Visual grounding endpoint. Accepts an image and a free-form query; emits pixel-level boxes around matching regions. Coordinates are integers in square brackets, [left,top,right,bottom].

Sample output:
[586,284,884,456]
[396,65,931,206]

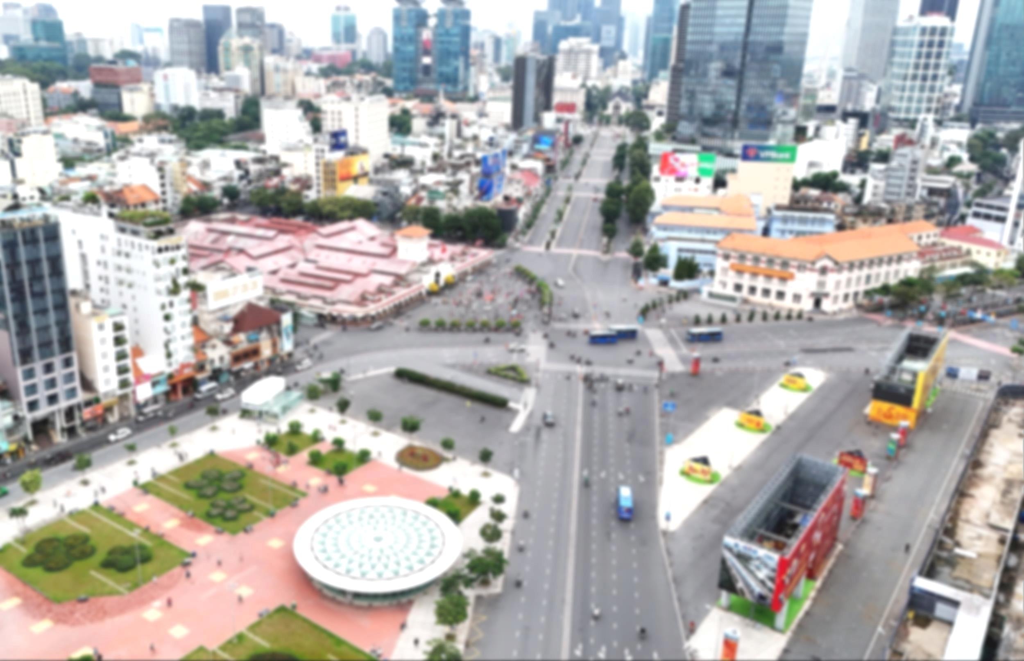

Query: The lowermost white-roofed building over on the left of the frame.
[292,498,462,614]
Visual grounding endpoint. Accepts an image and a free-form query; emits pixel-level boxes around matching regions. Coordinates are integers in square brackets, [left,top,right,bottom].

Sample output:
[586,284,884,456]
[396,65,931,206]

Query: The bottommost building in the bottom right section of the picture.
[706,453,847,638]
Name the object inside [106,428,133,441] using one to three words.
vehicle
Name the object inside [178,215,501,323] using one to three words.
building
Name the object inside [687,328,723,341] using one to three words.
vehicle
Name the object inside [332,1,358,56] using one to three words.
building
